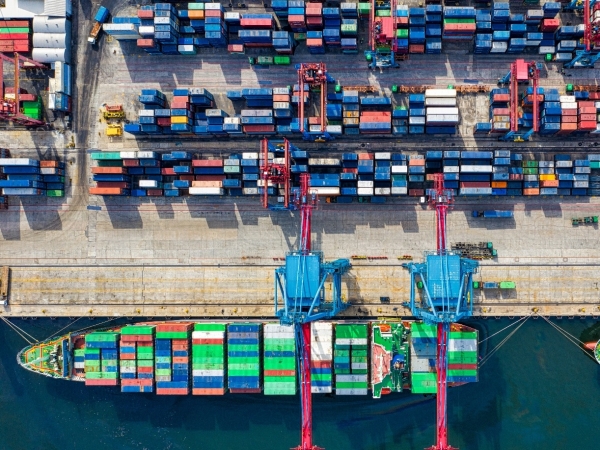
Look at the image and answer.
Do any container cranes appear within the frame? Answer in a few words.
Yes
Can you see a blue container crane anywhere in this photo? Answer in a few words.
Yes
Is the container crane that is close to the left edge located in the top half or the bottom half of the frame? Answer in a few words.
top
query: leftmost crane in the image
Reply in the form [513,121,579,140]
[0,53,59,128]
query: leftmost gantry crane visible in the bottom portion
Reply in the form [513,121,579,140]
[274,173,352,450]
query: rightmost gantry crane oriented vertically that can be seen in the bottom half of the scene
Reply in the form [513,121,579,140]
[401,173,475,450]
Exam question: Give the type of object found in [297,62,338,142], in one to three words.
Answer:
container crane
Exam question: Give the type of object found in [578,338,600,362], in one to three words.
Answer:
ship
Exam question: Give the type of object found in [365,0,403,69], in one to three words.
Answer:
container crane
